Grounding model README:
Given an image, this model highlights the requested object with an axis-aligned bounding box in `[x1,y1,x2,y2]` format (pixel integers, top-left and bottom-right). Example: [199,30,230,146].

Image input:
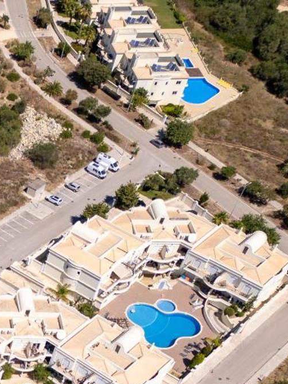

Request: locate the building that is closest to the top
[76,0,190,102]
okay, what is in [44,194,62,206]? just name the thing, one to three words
vehicle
